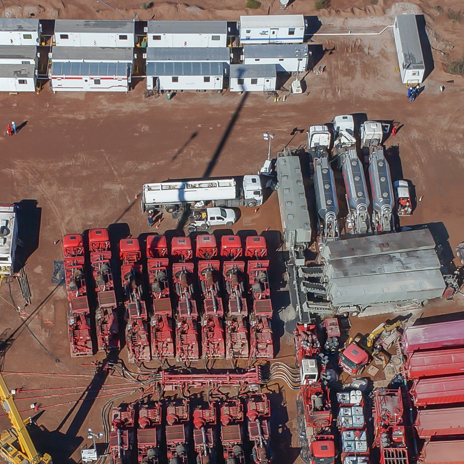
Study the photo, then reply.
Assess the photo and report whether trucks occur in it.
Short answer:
Yes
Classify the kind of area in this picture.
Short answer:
industrial area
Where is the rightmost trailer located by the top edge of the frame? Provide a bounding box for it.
[393,13,425,89]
